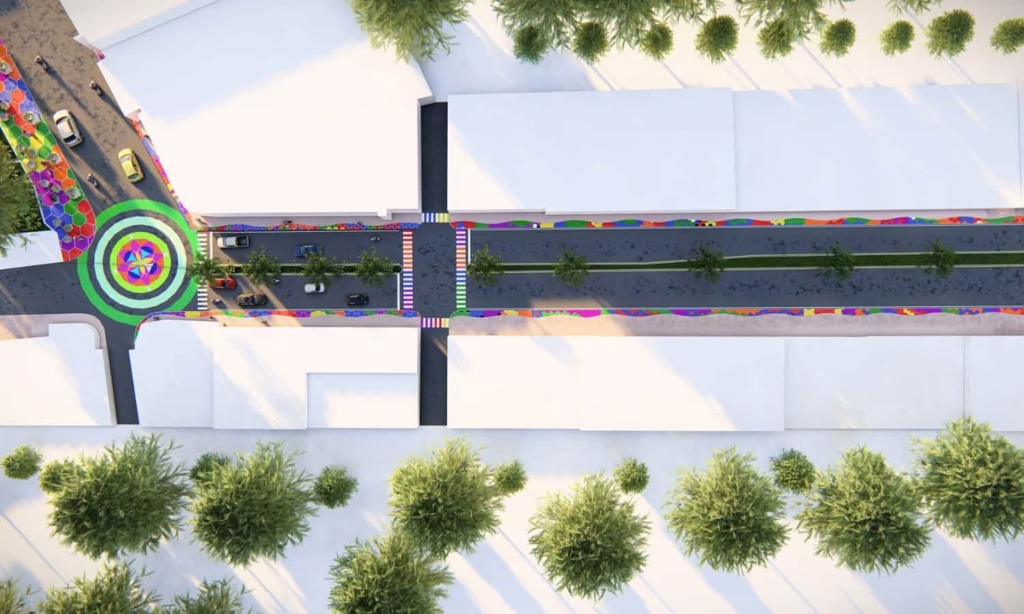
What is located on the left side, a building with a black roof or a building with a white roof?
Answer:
building with a white roof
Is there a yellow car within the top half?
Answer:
Yes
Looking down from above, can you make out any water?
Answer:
No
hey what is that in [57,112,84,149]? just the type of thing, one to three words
car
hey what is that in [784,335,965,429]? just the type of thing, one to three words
building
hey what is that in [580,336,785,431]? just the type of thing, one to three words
building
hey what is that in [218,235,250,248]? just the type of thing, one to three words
vehicle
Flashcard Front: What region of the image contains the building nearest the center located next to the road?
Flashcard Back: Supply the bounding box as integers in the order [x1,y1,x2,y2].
[448,335,581,428]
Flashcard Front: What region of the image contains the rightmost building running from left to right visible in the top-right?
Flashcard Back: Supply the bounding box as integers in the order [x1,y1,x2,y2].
[729,83,1020,214]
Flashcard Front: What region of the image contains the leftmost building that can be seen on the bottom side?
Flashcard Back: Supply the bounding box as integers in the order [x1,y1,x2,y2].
[0,323,121,426]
